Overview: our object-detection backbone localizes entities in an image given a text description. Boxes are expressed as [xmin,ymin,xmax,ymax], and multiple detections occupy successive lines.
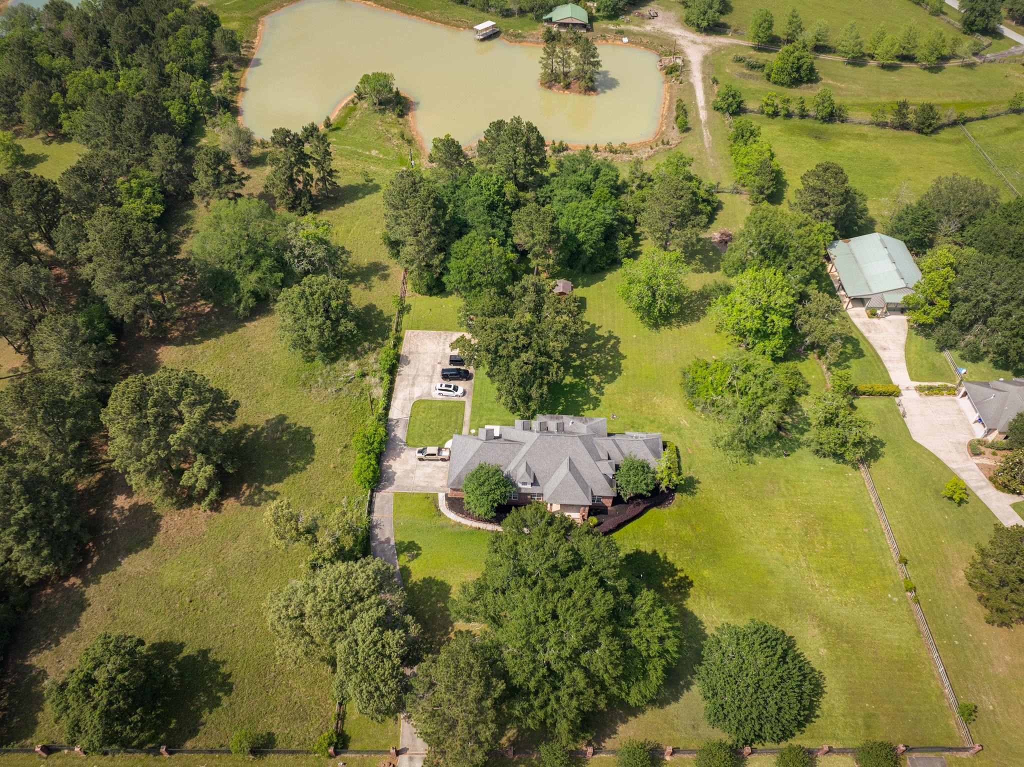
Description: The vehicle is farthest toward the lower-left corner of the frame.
[415,446,451,462]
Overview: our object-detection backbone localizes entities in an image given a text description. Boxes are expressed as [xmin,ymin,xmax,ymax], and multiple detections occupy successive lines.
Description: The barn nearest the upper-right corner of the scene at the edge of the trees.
[823,232,929,319]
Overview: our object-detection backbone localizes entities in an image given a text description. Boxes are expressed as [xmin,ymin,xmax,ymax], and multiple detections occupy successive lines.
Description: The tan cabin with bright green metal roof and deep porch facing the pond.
[541,8,592,35]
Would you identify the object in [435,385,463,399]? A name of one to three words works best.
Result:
car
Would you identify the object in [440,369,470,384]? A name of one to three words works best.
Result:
car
